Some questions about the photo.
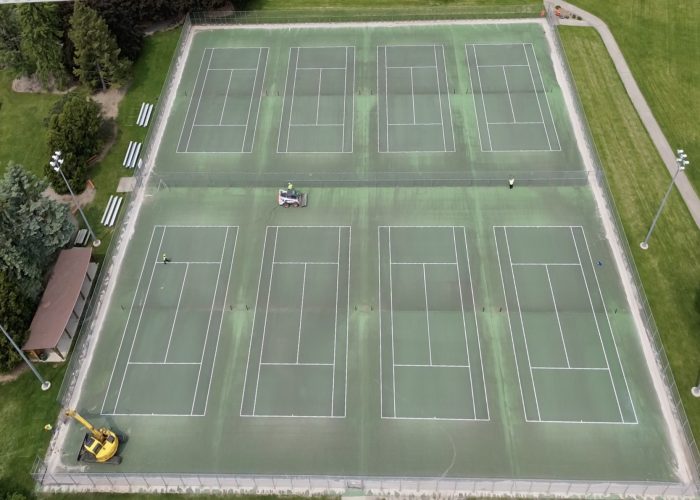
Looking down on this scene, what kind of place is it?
sports ground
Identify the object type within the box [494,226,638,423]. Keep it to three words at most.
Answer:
tennis court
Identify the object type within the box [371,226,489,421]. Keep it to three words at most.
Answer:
tennis court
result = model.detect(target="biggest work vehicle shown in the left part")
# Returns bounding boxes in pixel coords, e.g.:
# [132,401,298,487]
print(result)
[64,410,123,465]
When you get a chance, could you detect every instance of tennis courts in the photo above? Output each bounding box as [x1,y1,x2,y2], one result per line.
[494,226,638,423]
[101,225,238,416]
[276,46,360,152]
[465,43,561,150]
[371,44,457,151]
[176,47,269,153]
[240,226,358,418]
[371,226,489,421]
